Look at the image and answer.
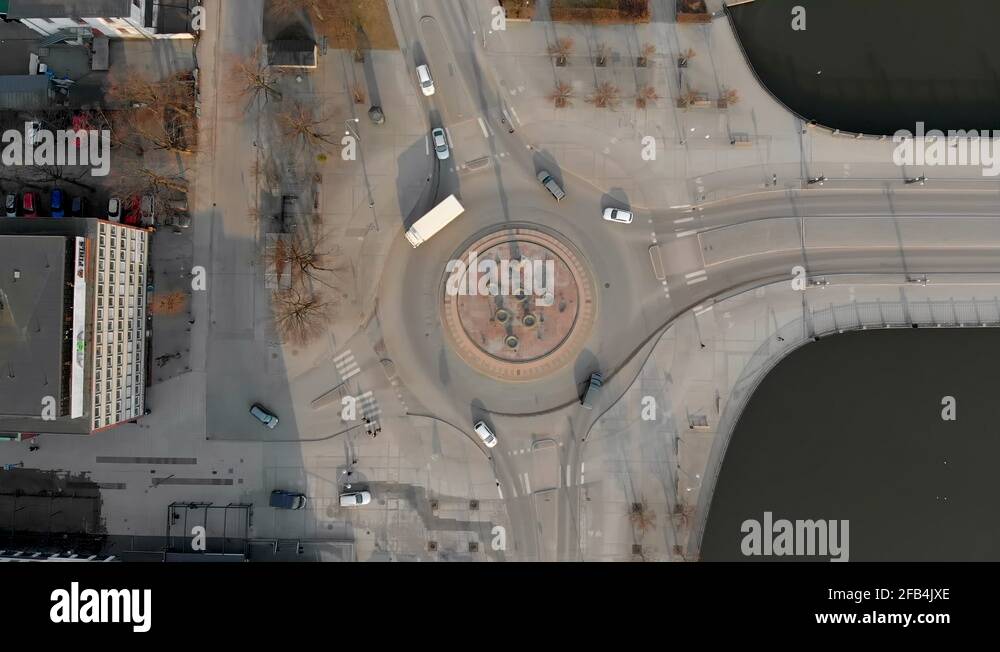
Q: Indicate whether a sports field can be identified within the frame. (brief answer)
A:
No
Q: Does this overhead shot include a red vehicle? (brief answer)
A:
Yes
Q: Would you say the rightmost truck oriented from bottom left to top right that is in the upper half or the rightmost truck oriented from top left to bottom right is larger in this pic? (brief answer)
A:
the rightmost truck oriented from bottom left to top right that is in the upper half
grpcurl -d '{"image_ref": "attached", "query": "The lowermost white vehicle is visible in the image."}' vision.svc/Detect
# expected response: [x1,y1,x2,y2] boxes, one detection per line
[339,491,371,508]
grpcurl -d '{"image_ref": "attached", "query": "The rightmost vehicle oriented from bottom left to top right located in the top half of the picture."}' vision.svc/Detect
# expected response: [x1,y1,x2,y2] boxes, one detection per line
[407,190,467,246]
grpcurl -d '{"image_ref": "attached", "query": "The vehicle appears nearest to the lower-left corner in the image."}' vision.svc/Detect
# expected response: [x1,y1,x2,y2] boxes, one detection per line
[269,492,306,509]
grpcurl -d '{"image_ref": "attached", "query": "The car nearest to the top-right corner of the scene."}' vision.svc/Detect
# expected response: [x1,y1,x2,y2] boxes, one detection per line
[603,207,634,224]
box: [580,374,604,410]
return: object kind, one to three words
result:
truck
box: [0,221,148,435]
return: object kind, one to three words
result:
building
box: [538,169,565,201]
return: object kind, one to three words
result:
truck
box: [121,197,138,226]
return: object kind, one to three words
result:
car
